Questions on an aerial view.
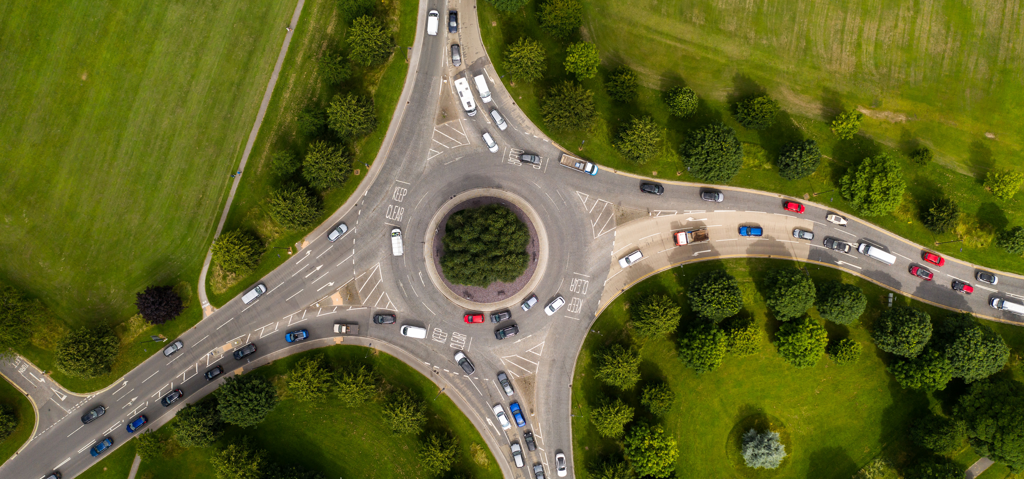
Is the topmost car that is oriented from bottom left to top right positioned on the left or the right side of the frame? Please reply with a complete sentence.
It is on the left.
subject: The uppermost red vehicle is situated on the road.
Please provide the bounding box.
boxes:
[783,201,805,214]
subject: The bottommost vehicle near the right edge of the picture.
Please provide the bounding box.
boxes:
[985,297,1024,320]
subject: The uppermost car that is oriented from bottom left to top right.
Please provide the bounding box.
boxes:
[326,222,349,243]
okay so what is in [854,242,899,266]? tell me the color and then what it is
white vehicle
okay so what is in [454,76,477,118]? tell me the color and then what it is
white camper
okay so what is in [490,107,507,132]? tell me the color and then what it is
white car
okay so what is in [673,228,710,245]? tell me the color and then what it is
white vehicle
